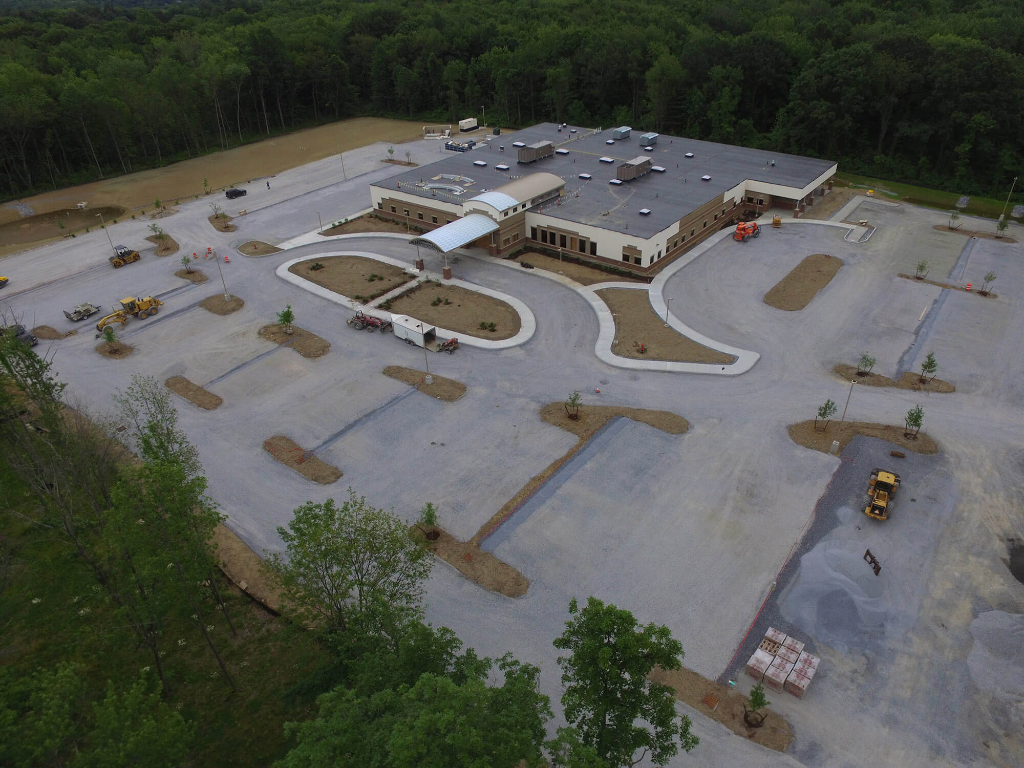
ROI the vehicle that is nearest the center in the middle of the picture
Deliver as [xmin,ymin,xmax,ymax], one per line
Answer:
[437,335,460,354]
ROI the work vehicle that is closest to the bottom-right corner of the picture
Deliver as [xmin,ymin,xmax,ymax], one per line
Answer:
[863,467,903,520]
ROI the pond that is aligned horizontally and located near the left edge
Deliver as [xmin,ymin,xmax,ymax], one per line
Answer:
[0,207,126,246]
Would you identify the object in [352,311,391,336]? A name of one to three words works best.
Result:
work vehicle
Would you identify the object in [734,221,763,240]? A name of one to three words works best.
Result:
work vehicle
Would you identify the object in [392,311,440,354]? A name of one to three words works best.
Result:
trailer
